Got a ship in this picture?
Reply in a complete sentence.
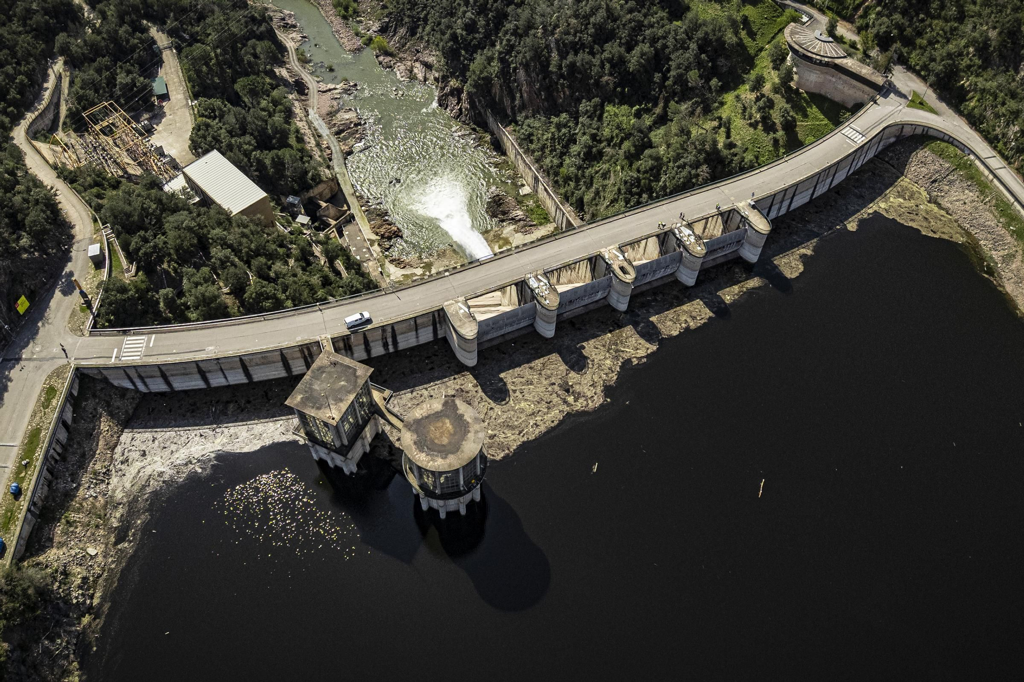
No, no ship is visible in the scene.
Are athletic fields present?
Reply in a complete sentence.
No, there is no athletic field in the image.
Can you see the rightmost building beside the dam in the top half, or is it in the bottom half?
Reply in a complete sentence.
Seen from above, the rightmost building beside the dam lies in the top half of the view.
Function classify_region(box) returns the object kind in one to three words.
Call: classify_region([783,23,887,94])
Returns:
building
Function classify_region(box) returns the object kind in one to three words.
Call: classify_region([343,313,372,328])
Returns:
vehicle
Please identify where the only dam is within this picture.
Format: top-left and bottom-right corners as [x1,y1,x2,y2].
[76,93,1024,395]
